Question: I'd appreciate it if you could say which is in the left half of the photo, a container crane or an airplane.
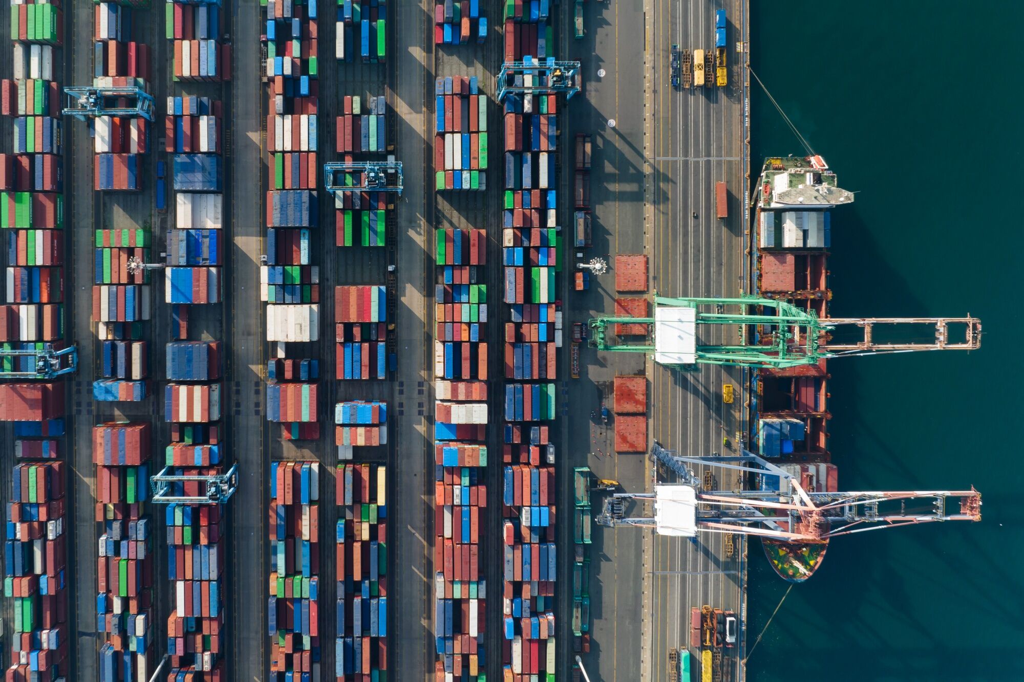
container crane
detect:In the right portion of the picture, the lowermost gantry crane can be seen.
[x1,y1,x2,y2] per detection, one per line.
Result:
[599,429,986,545]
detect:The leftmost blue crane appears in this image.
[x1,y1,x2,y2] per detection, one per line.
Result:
[0,339,83,377]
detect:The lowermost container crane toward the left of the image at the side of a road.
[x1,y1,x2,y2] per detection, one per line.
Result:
[151,456,242,505]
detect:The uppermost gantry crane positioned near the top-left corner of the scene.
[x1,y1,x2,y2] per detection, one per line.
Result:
[62,91,160,126]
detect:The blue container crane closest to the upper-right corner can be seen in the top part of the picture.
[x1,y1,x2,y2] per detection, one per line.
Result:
[495,63,582,106]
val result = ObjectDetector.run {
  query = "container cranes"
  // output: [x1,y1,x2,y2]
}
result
[495,63,582,106]
[62,91,160,126]
[599,429,986,545]
[151,456,242,505]
[0,339,83,377]
[323,163,407,198]
[589,282,984,371]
